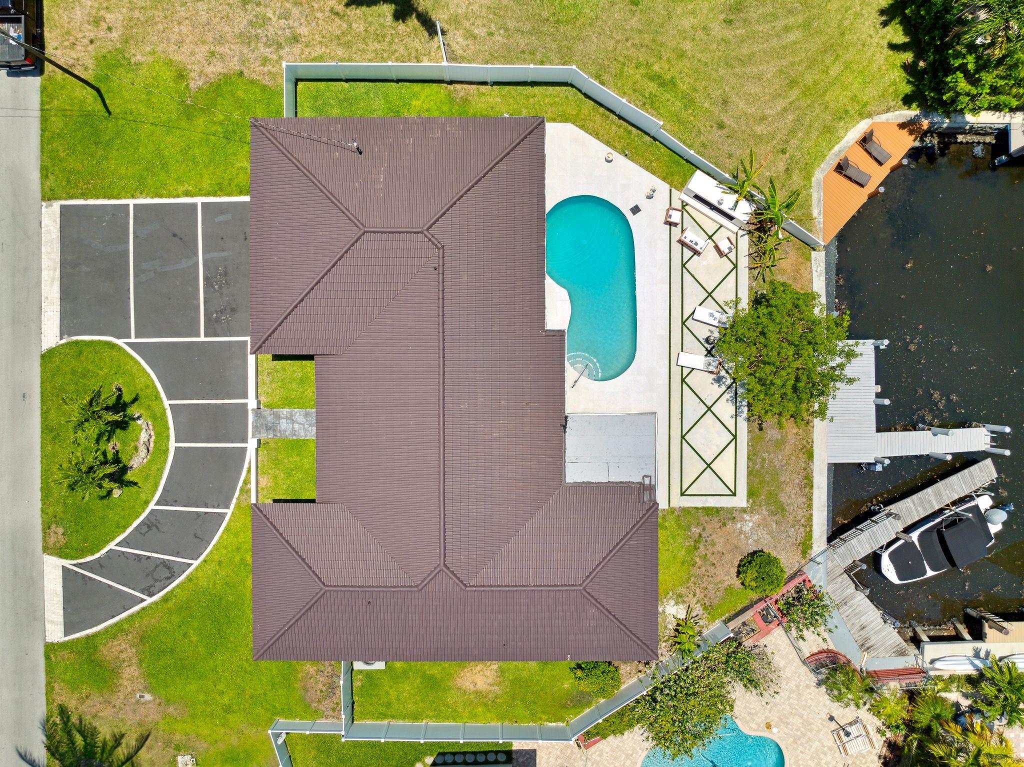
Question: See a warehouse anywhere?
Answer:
No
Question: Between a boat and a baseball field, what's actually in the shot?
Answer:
boat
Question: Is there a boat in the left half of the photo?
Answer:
No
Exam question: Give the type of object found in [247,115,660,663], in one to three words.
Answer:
house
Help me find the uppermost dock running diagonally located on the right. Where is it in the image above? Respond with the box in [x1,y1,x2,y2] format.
[823,122,928,246]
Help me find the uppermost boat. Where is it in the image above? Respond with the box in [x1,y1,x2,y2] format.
[875,498,1003,583]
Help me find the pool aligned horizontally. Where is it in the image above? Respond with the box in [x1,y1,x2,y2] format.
[637,709,791,767]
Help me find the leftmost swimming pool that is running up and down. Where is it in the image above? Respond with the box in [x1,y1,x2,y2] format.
[545,196,637,388]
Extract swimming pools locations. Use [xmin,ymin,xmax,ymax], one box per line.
[545,196,637,388]
[637,709,791,767]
